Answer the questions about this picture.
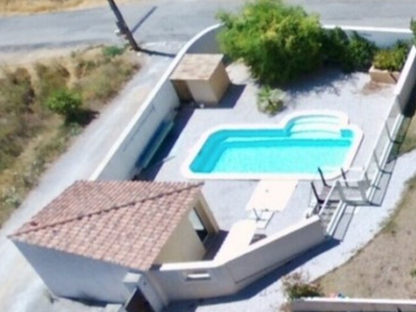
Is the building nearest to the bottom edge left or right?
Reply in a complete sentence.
The building nearest to the bottom edge is on the left side of the image.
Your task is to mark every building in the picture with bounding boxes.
[161,46,231,105]
[3,172,222,307]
